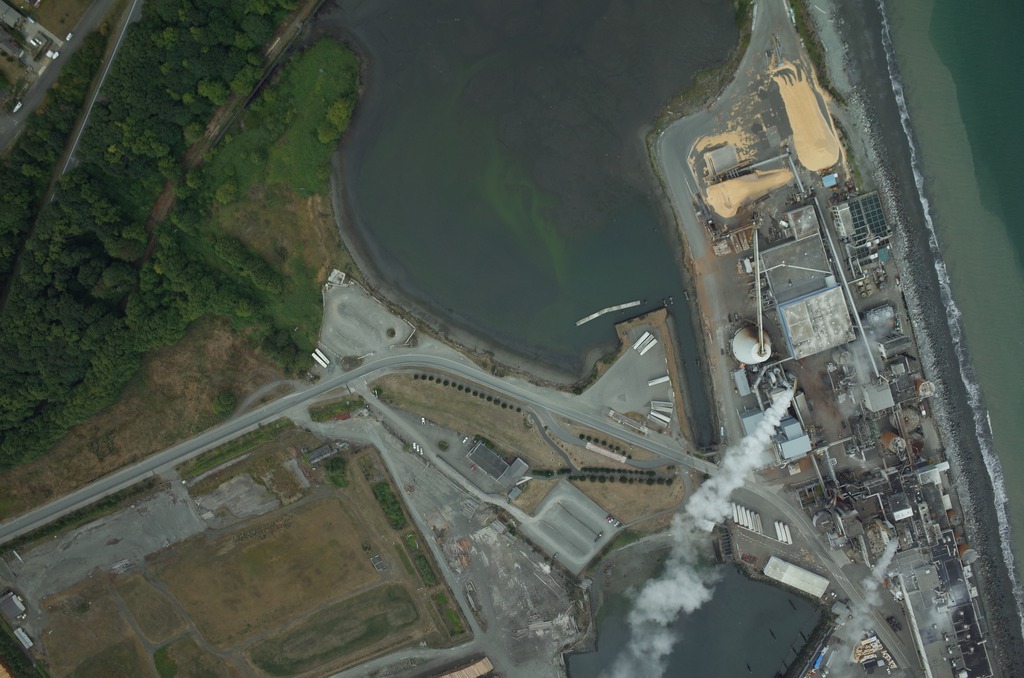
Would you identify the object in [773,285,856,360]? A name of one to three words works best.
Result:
building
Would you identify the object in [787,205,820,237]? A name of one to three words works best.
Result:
building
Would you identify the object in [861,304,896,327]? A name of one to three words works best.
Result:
cooling tower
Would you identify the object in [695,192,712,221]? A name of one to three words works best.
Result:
vehicle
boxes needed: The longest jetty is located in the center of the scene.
[576,300,641,327]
